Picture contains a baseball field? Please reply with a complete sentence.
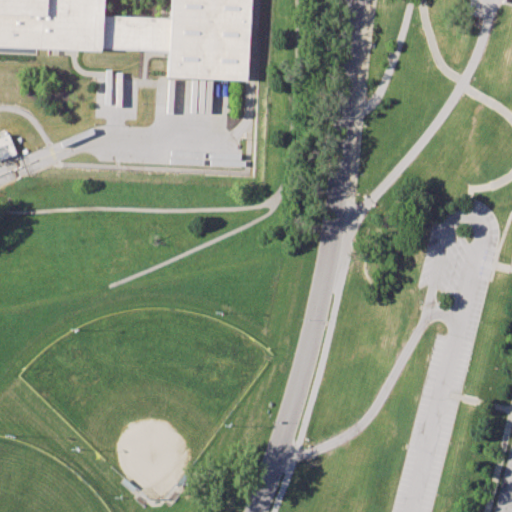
Yes, the picture does show a baseball field.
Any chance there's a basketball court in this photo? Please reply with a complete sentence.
No, the scene contains no basketball court.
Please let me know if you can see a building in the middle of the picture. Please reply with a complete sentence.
No, I see no building in the middle of the picture.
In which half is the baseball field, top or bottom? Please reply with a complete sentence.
The baseball field sits in the bottom half of the picture.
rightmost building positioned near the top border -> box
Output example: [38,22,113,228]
[166,0,254,81]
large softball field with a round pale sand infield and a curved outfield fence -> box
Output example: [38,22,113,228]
[20,308,270,500]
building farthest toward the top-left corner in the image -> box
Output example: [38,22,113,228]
[0,0,106,56]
